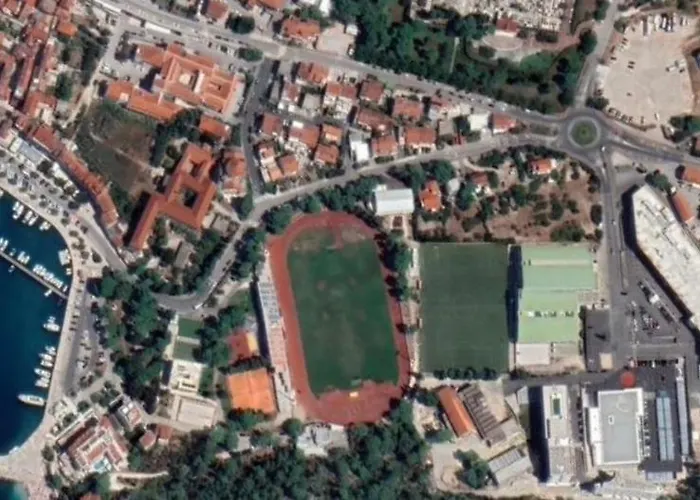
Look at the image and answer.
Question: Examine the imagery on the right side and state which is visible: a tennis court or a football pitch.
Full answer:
The one visible on the right side is a football pitch.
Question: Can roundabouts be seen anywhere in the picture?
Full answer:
Yes, the photo shows a roundabout.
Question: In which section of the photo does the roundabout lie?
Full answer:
The roundabout is in the top right part of the image.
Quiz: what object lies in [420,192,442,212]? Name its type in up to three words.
house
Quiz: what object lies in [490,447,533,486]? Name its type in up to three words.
shed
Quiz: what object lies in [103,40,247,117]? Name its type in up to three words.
building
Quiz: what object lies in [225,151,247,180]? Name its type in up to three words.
house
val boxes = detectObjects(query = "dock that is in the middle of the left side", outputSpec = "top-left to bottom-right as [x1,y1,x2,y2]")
[0,251,70,300]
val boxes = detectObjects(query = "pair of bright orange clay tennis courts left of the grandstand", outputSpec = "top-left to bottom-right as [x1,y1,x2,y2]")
[227,370,275,413]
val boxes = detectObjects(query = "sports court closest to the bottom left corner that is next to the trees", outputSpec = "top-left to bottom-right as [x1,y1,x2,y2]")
[176,397,217,425]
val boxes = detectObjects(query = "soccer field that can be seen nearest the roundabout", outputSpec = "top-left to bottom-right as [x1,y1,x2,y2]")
[420,243,509,373]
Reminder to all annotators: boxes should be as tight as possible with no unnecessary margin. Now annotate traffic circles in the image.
[554,103,613,162]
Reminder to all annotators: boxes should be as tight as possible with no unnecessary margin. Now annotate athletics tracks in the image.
[268,211,412,426]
